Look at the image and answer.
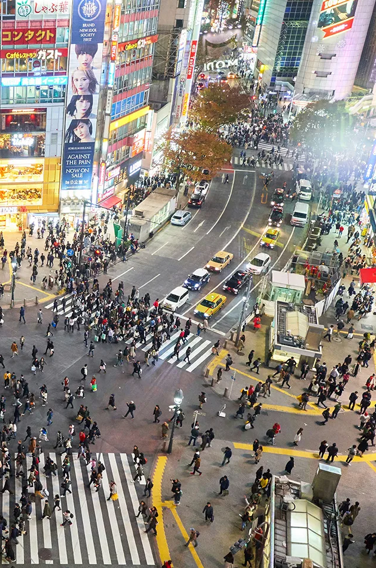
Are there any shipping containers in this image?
No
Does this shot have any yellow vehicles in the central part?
Yes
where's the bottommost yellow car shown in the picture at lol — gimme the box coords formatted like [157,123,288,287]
[195,291,231,316]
